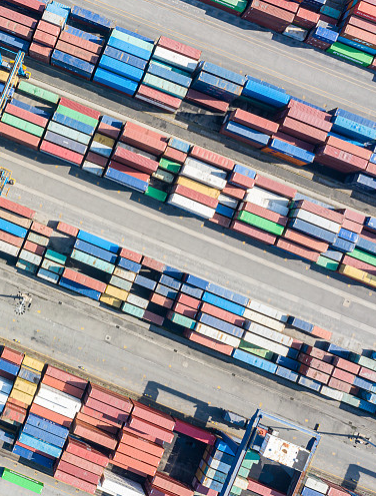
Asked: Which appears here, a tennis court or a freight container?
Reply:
freight container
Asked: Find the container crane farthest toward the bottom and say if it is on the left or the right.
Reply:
right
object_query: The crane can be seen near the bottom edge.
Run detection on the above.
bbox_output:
[209,409,322,496]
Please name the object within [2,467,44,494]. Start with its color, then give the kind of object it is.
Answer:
green shipping container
